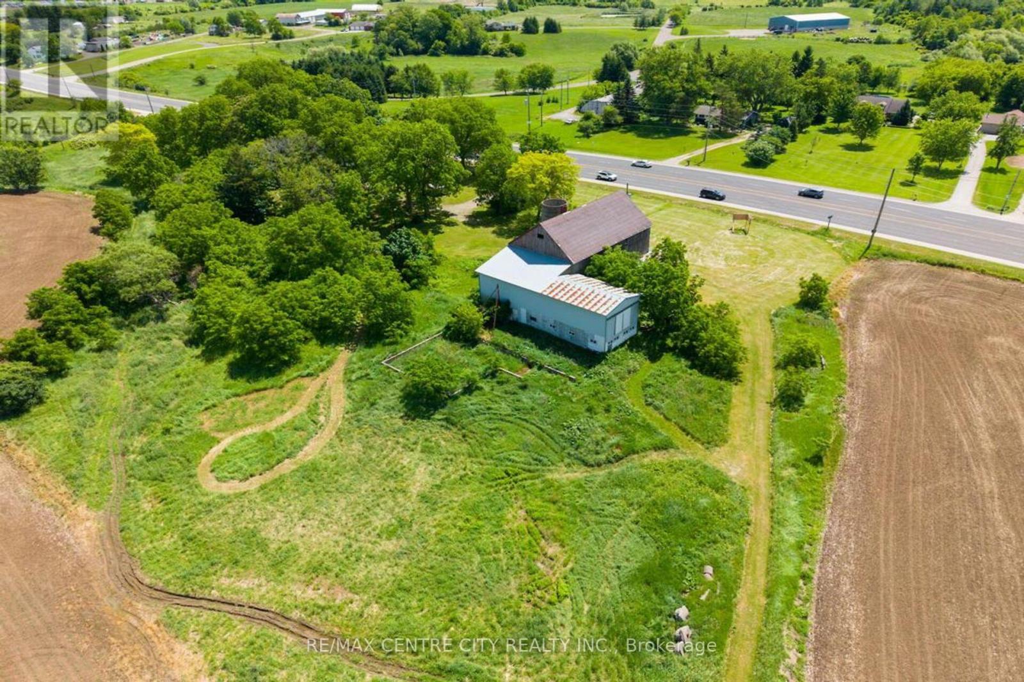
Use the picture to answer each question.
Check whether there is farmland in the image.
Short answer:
Yes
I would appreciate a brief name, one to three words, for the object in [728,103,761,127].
shed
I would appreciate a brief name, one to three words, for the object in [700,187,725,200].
vehicle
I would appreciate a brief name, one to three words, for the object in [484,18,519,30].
house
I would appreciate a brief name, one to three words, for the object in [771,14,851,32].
building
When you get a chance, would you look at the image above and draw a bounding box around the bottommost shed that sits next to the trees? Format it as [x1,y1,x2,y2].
[474,244,642,353]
